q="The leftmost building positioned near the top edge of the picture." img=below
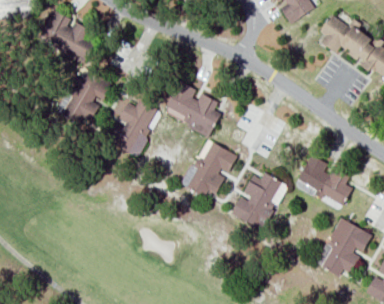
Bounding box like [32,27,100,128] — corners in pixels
[44,12,92,62]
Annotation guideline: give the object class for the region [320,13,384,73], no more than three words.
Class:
house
